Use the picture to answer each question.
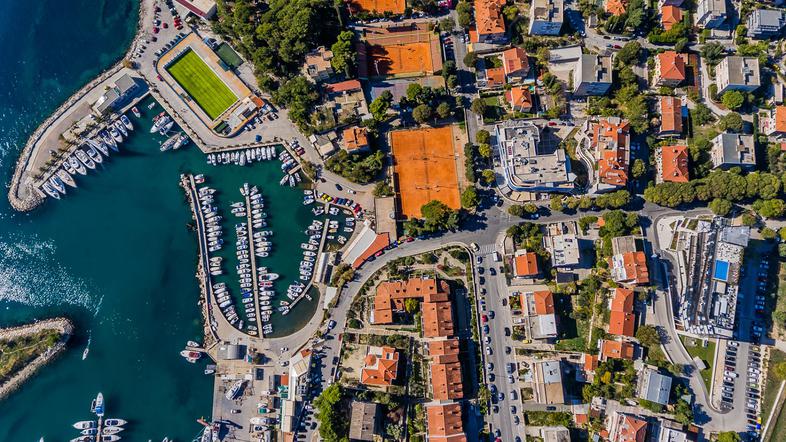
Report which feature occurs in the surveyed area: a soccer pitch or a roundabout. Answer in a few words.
soccer pitch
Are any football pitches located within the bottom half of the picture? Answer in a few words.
No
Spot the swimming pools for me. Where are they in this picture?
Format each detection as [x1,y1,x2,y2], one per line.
[712,259,731,282]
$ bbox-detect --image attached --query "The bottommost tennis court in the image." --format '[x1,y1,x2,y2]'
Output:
[399,180,461,217]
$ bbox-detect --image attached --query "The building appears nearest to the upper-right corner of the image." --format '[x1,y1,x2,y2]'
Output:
[749,8,783,36]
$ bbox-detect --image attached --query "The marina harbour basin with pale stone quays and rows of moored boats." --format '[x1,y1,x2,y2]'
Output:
[8,0,374,442]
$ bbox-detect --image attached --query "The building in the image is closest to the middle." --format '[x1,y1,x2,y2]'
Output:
[375,196,397,238]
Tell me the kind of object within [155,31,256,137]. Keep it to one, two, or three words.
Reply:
soccer field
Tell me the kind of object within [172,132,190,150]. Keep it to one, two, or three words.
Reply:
boat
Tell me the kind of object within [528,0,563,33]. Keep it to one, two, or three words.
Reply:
building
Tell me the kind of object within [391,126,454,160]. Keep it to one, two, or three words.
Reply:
tennis court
